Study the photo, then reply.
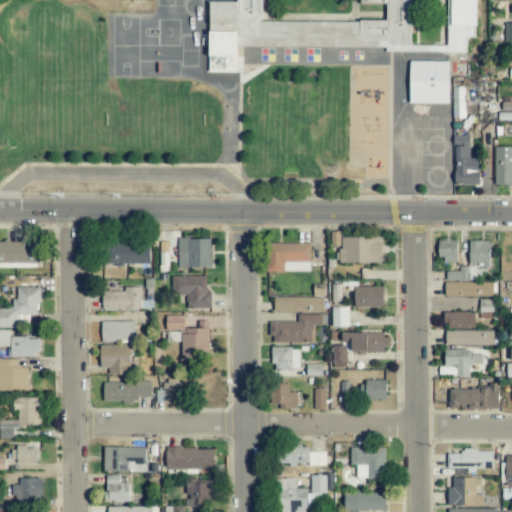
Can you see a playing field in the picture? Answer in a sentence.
Yes, a playing field appears in the view.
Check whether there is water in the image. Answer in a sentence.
No, water can't be seen anywhere here.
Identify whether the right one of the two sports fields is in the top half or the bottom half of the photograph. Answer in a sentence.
Seen from above, the right one of the two sports fields lies in the top half of the view.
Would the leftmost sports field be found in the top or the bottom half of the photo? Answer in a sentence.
The leftmost sports field sits in the top half of the picture.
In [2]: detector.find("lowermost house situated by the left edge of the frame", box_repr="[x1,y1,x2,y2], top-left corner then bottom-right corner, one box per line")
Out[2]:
[12,478,44,500]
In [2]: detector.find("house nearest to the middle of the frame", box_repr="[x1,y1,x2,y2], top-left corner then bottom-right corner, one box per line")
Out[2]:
[268,243,312,273]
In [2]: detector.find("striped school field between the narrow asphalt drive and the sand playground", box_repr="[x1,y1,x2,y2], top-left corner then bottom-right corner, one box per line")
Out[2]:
[244,66,350,178]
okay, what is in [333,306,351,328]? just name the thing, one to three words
building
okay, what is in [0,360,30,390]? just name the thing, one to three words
house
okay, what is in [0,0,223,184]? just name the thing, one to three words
sports field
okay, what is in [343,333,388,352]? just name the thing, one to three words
house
